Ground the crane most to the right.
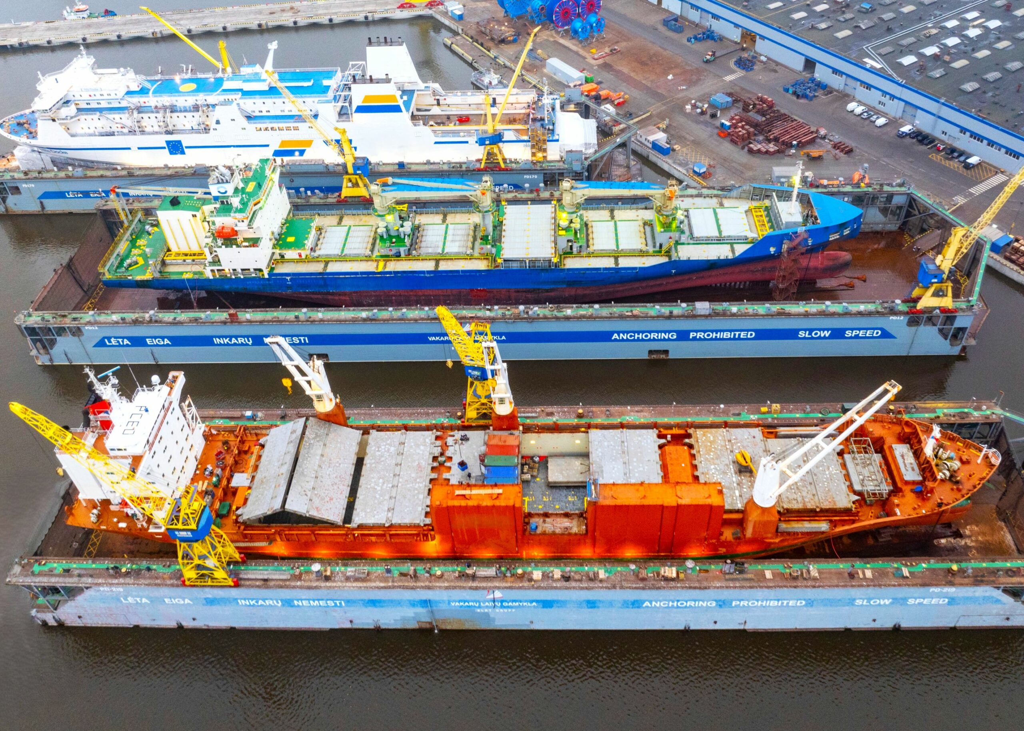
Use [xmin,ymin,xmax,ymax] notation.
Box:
[892,164,1024,319]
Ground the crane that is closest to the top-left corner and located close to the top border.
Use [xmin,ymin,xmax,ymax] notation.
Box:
[136,4,240,71]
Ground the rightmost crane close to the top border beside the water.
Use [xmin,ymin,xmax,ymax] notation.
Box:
[471,23,542,170]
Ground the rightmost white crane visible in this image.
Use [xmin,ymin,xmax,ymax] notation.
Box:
[736,376,910,540]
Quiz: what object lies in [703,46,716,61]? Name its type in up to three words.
vehicle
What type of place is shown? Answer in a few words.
port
